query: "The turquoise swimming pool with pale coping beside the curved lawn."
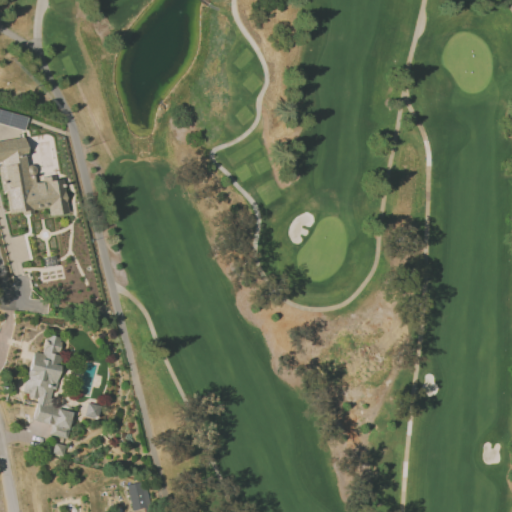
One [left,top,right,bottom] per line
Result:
[82,362,102,396]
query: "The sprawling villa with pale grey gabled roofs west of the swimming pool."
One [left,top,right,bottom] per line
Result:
[16,335,78,440]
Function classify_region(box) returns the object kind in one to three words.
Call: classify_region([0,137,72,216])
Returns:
house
